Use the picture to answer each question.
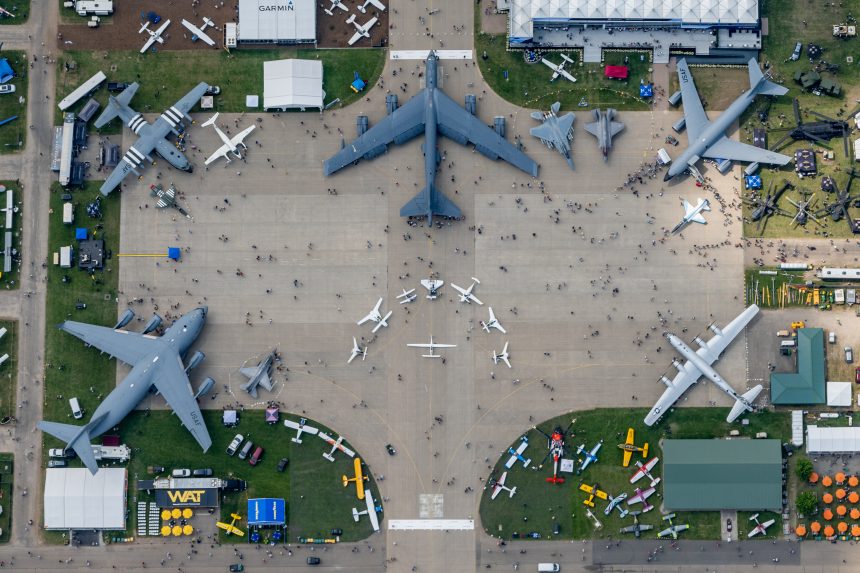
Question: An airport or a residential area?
airport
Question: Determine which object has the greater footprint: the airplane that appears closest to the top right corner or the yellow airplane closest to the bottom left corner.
the airplane that appears closest to the top right corner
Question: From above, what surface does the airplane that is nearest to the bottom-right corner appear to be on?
grass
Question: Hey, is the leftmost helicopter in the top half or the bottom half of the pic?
bottom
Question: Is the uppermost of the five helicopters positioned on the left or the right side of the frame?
right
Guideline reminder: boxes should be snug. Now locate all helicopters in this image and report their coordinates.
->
[738,176,796,232]
[774,99,860,156]
[786,184,817,224]
[532,423,583,483]
[814,170,860,230]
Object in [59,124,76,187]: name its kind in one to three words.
trailer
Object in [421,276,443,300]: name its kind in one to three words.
airplane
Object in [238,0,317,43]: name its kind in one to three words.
tent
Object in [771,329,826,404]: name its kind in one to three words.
building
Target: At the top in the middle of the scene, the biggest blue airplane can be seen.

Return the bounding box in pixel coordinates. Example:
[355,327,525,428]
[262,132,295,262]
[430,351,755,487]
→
[323,50,538,224]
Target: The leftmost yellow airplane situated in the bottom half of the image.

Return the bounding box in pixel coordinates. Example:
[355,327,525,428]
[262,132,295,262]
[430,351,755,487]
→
[215,513,244,538]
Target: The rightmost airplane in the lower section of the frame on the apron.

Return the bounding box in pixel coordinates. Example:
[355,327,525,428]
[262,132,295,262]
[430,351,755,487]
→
[644,304,762,424]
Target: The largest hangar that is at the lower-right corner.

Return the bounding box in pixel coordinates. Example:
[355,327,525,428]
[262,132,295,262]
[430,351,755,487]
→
[663,439,784,513]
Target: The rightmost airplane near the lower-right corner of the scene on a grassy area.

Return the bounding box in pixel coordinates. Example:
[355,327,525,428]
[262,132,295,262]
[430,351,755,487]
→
[747,513,776,538]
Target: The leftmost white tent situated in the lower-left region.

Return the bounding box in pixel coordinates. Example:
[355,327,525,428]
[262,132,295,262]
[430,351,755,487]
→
[44,468,127,538]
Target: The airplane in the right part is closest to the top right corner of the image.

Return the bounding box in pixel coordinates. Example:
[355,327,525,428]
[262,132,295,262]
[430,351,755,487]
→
[663,57,794,181]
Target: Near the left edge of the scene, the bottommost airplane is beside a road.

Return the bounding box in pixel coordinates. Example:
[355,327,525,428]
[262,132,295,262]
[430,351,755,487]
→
[33,306,215,476]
